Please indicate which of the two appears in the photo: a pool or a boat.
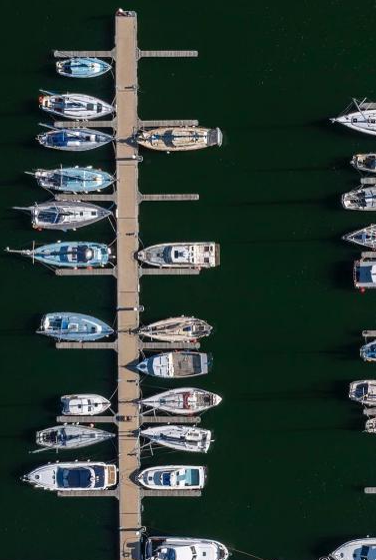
boat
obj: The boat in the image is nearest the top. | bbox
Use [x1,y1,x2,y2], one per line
[55,56,117,79]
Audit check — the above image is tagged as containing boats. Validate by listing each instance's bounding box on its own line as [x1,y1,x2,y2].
[354,260,376,291]
[131,421,219,465]
[112,118,220,153]
[26,165,117,198]
[341,224,376,254]
[133,349,216,382]
[136,465,213,490]
[55,56,117,79]
[35,87,117,123]
[134,384,224,421]
[8,239,117,273]
[351,153,376,173]
[115,314,215,344]
[342,182,376,212]
[366,414,376,435]
[15,197,117,233]
[29,123,117,154]
[330,533,376,560]
[134,237,224,271]
[21,422,118,461]
[63,391,117,416]
[38,313,119,344]
[349,381,376,411]
[361,336,376,362]
[330,98,376,136]
[20,458,121,491]
[142,531,259,560]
